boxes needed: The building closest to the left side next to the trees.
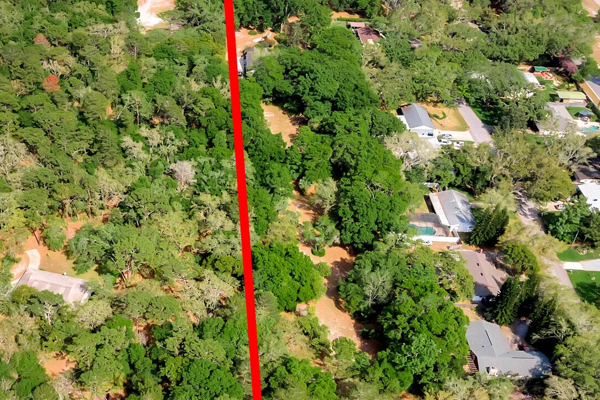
[16,268,87,311]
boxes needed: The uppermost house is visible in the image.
[349,22,380,50]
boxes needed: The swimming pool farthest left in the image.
[407,213,454,237]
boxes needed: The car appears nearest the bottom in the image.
[511,338,537,353]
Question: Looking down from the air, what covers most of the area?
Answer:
trees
